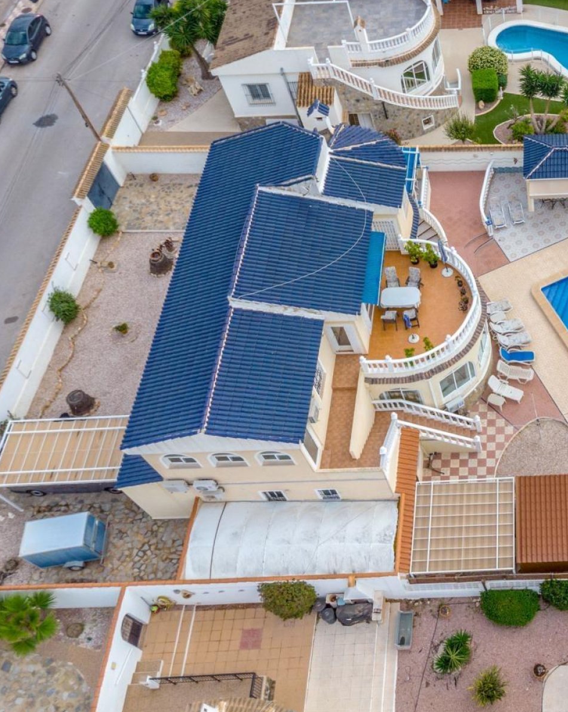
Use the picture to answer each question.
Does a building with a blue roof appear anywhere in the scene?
Yes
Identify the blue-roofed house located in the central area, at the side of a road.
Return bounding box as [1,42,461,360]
[119,116,493,515]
